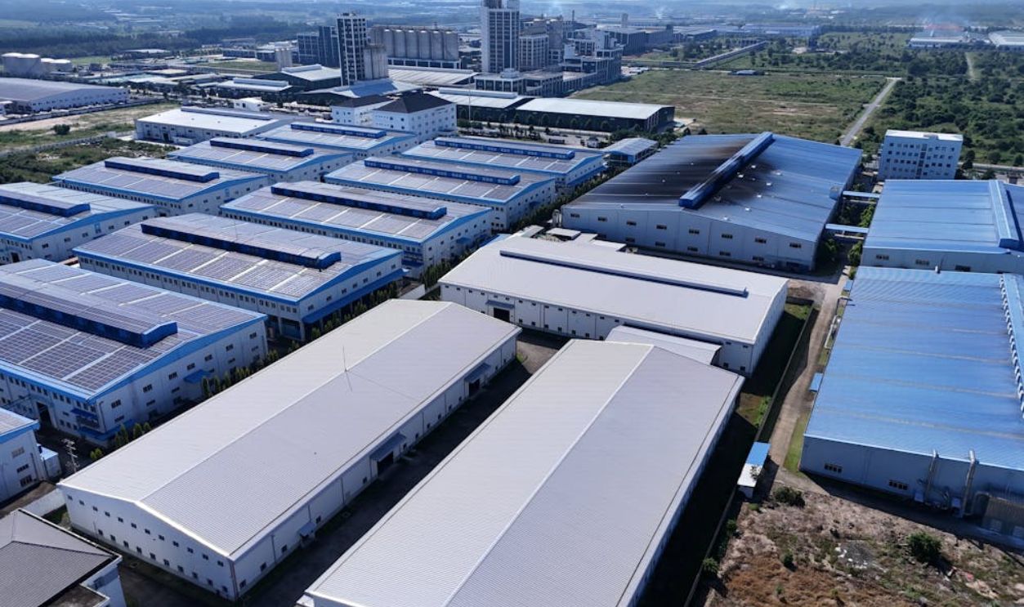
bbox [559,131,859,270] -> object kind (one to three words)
building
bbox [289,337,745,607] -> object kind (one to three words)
warehouse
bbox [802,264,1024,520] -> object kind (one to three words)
building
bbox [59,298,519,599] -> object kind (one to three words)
warehouse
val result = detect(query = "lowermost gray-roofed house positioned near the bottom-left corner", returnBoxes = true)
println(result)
[0,509,119,607]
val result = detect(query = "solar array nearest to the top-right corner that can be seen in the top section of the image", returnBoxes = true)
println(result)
[603,136,657,154]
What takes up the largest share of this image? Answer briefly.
buildings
